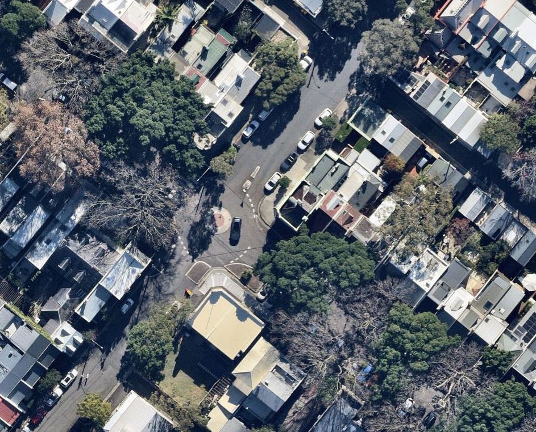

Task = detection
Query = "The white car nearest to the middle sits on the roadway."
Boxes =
[261,169,285,194]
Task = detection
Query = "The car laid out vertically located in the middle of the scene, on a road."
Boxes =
[229,217,242,243]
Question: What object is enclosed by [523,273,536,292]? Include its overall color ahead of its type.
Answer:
white umbrella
